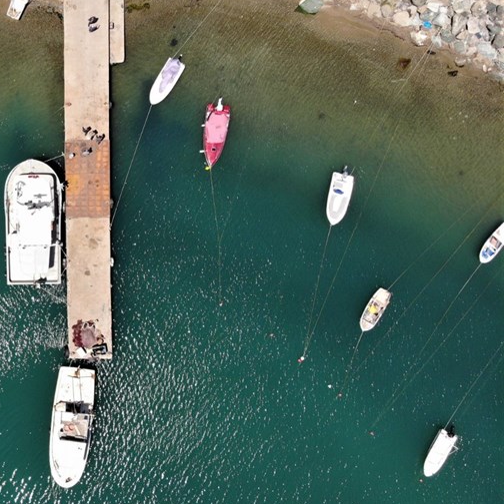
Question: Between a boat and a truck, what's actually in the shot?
boat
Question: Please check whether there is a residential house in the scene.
No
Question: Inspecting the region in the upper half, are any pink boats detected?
Yes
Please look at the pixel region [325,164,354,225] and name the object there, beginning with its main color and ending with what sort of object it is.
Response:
white boat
